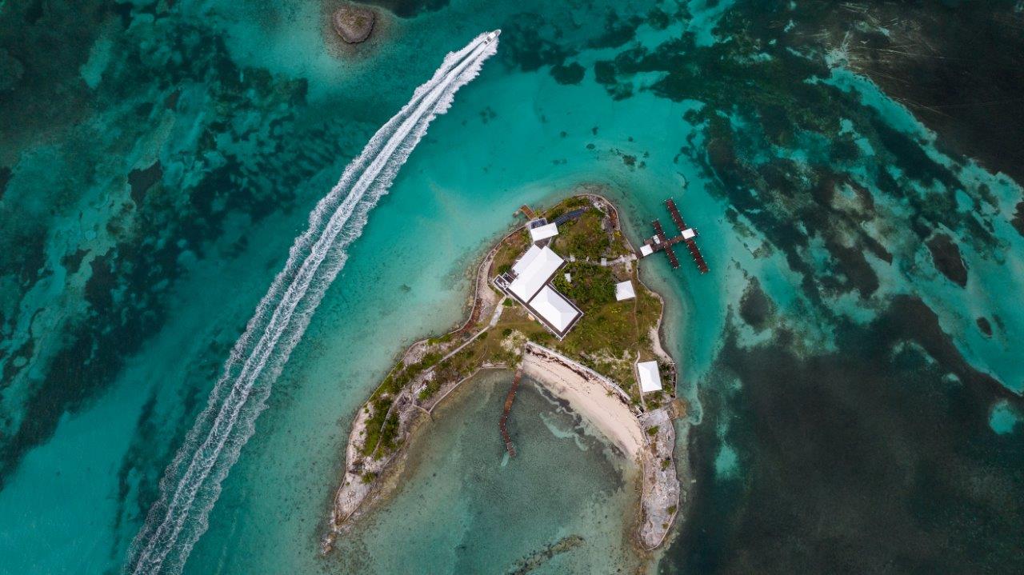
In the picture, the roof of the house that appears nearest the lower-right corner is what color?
white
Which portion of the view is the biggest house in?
center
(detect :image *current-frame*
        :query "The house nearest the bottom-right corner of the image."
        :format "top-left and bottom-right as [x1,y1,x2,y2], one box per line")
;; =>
[637,361,662,392]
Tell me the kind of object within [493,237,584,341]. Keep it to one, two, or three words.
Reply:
house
